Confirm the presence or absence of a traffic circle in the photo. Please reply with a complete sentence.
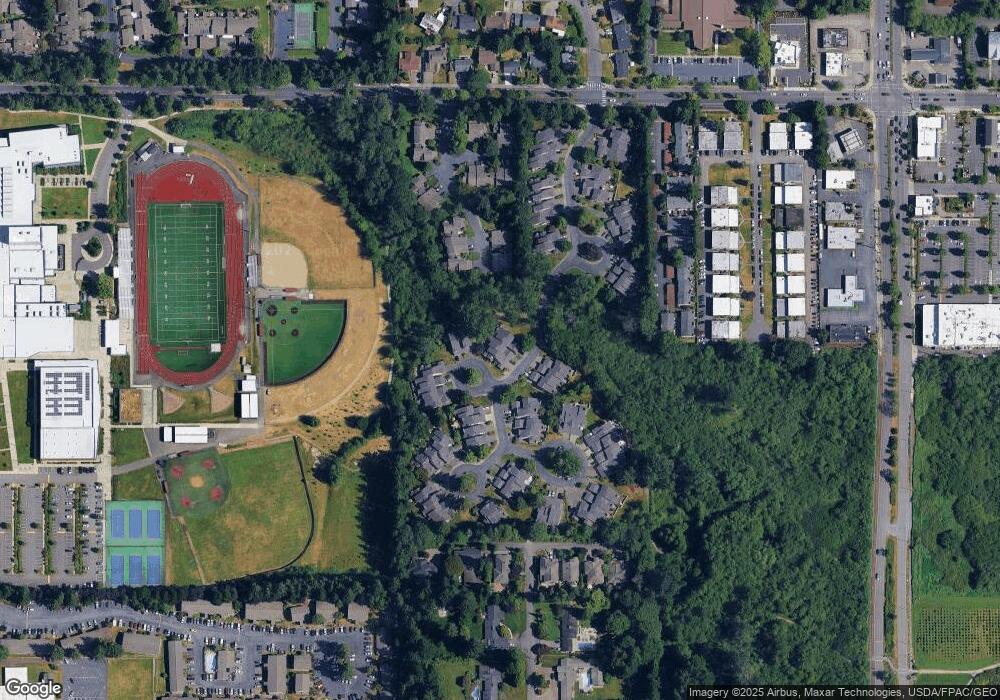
Yes, a traffic circle is visible in the scene.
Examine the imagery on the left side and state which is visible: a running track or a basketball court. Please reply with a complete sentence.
Visible on the left side is a running track.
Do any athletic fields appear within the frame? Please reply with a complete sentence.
Yes, this view includes an athletic field.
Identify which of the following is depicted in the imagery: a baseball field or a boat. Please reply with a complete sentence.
I can see a baseball field in this picture.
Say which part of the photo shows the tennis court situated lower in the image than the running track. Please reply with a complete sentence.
The tennis court situated lower in the image than the running track is in the bottom left part of the image.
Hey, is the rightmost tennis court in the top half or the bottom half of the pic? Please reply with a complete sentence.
The top half of the photo is where the rightmost tennis court is.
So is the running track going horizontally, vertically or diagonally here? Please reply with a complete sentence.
Seen from above, the running track lies vertically.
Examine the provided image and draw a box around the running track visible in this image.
[136,161,245,386]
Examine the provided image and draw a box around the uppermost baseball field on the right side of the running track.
[264,238,311,287]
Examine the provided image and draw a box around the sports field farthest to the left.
[147,201,227,372]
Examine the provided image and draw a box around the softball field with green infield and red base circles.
[161,440,313,584]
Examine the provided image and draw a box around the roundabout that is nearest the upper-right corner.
[559,233,617,273]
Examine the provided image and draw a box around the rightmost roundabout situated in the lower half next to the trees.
[536,439,590,487]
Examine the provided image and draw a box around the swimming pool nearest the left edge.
[204,650,217,674]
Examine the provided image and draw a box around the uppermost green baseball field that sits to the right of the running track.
[264,300,347,386]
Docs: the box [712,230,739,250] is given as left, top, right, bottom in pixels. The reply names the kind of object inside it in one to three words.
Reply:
building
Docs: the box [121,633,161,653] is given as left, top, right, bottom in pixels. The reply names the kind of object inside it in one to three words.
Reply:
building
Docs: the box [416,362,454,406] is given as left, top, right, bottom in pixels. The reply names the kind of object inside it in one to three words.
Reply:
house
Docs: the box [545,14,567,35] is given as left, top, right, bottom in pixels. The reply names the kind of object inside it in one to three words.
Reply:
house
